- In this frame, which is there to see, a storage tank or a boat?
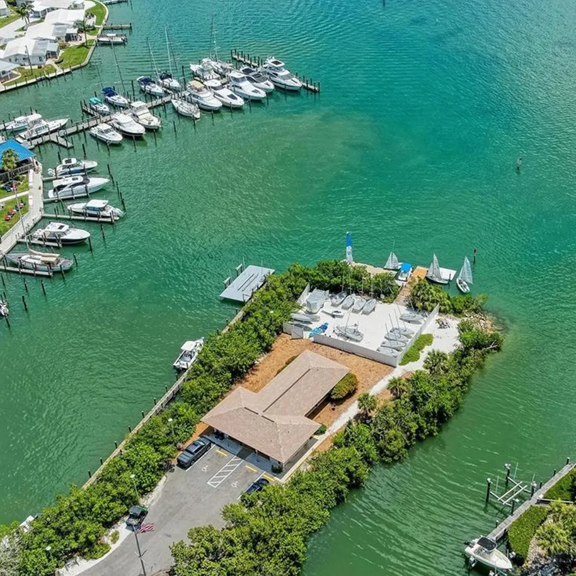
boat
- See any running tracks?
No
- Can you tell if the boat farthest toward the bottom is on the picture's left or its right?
right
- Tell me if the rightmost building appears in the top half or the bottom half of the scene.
bottom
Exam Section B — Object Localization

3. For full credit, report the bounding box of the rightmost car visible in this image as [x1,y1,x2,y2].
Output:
[238,471,279,503]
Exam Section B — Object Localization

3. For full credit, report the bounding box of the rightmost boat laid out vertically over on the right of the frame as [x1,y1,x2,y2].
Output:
[457,251,472,296]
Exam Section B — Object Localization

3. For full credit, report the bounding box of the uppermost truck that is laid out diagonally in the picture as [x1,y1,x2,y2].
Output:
[171,435,215,467]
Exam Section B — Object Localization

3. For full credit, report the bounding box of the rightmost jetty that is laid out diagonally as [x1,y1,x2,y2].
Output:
[480,452,576,544]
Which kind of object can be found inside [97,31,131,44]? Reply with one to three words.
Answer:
boat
